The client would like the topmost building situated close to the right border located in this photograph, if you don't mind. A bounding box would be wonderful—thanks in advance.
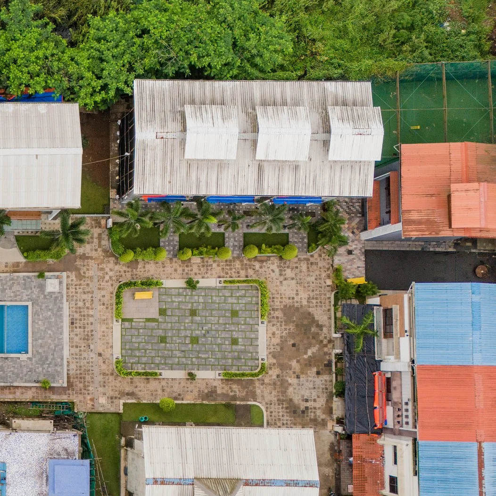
[349,142,496,243]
